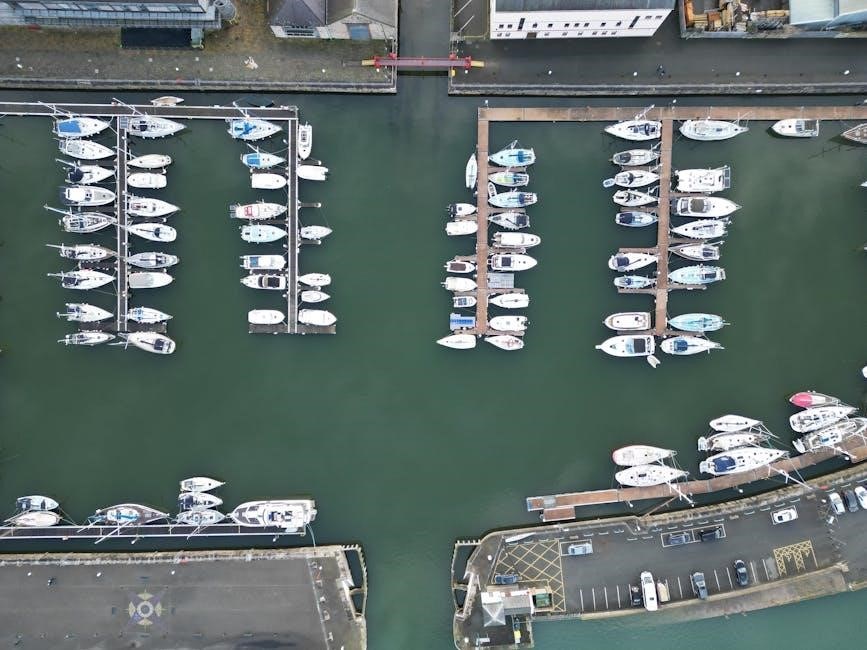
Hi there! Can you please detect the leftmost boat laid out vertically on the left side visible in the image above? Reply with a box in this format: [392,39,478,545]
[298,121,312,160]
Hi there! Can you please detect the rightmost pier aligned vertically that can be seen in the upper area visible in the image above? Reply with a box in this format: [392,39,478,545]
[616,121,706,339]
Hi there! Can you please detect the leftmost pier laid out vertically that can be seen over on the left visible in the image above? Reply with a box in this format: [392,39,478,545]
[76,118,168,335]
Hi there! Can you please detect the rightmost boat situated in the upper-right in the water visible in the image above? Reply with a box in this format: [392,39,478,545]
[841,124,867,145]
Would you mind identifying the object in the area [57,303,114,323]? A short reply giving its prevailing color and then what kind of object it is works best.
white boat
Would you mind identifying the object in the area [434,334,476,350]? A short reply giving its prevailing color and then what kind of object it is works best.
white boat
